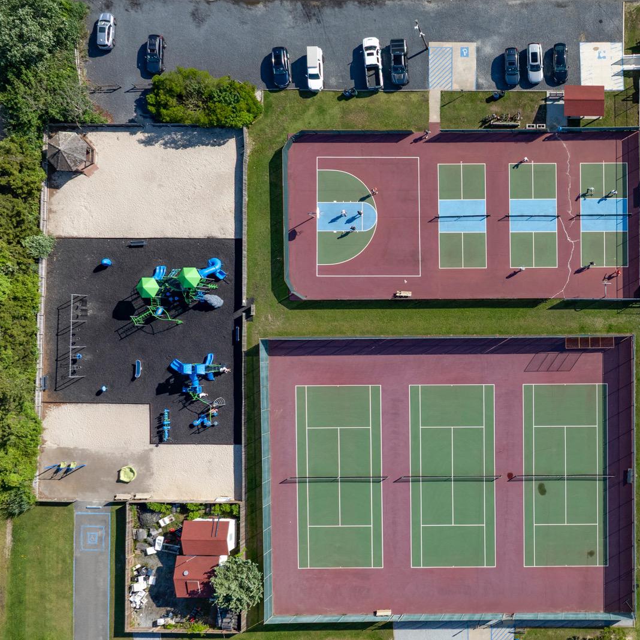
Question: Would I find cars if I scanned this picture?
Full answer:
Yes, the photo shows a car.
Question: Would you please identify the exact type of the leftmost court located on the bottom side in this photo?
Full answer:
In the photo, the leftmost court located on the bottom side shows up as a tennis court.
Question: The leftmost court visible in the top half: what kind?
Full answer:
I'd say the leftmost court visible in the top half is a basketball court.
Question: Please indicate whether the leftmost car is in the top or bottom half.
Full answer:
The leftmost car is in the top half of the image.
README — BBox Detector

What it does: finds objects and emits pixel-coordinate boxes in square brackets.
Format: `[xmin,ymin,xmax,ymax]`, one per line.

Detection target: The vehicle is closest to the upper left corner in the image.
[96,12,117,50]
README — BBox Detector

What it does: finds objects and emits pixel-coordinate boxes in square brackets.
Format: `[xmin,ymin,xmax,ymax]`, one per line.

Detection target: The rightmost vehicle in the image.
[554,43,570,84]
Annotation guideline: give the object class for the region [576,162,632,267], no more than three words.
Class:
sports court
